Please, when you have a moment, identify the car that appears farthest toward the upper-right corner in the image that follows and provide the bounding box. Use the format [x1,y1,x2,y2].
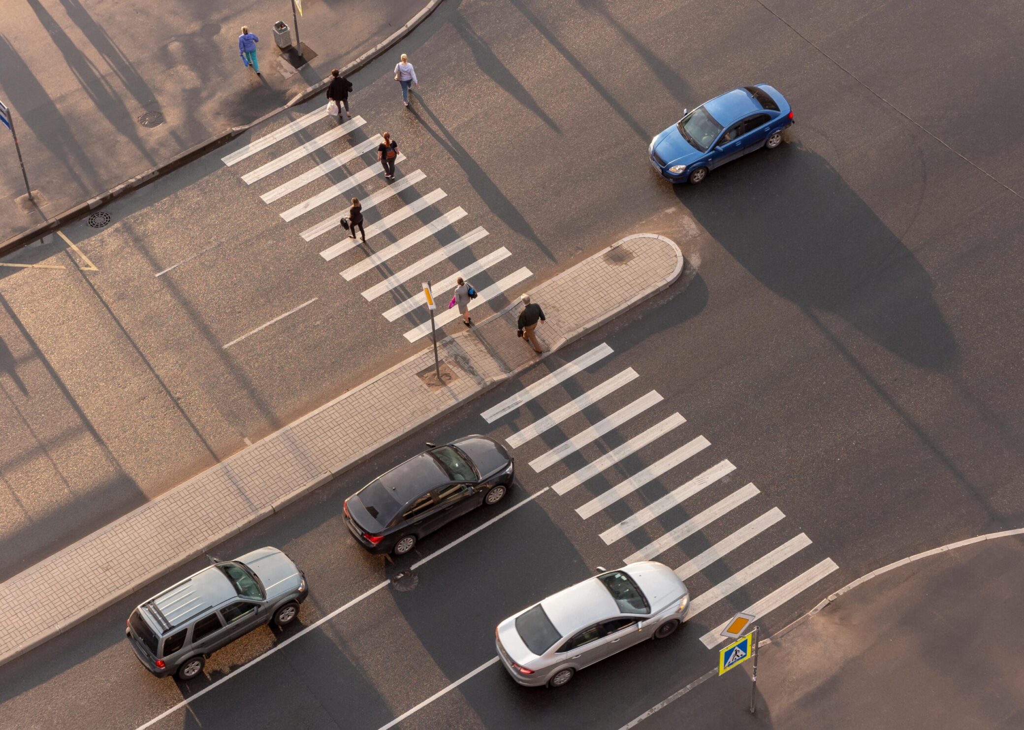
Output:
[647,83,798,185]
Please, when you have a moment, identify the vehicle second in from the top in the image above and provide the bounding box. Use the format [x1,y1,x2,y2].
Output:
[339,435,517,560]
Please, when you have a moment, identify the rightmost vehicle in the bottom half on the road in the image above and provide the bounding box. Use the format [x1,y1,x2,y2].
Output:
[493,559,695,692]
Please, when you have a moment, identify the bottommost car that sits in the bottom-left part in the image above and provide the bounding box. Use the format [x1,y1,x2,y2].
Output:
[124,549,309,683]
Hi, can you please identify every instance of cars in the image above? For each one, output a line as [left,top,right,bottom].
[647,83,798,185]
[493,559,695,692]
[339,435,517,560]
[124,549,309,683]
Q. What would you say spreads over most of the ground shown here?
paved ground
